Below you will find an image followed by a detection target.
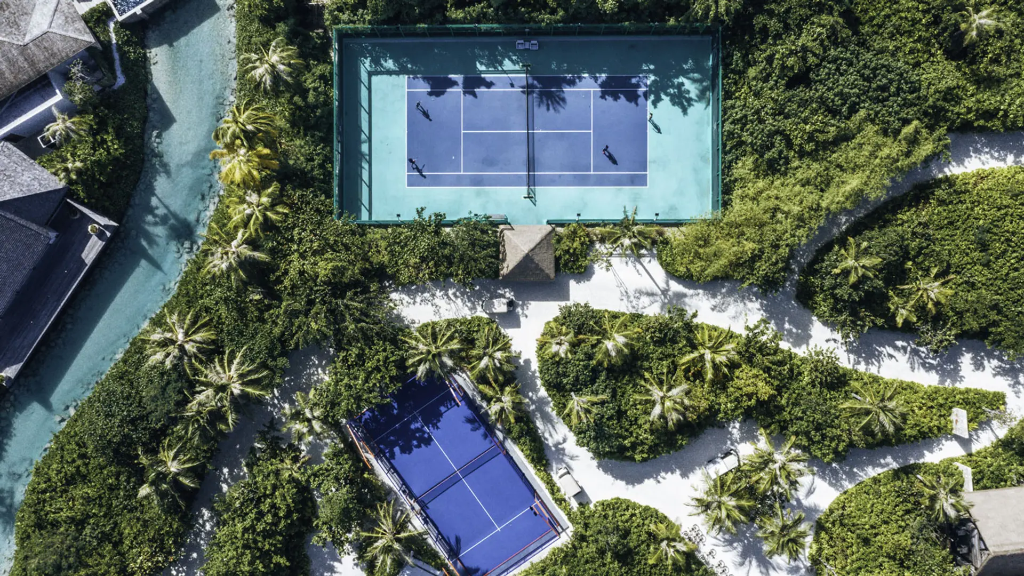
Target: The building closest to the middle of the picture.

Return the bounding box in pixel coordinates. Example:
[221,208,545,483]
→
[499,225,555,281]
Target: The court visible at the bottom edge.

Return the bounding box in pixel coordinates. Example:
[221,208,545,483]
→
[345,360,569,576]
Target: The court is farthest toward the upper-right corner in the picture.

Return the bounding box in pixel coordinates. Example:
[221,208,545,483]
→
[343,38,713,224]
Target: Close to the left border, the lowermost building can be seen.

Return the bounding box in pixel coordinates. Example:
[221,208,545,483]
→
[0,142,123,392]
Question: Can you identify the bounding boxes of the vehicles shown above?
[554,464,581,496]
[702,448,737,478]
[482,299,511,312]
